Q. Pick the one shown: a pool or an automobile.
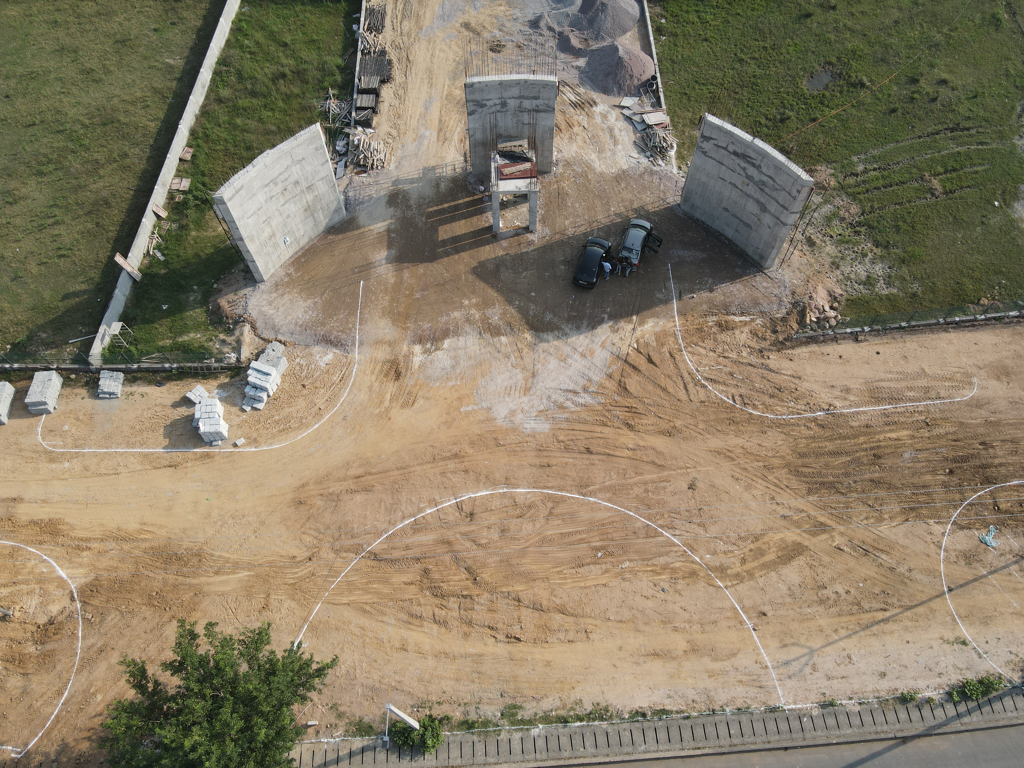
automobile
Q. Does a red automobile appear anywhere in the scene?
No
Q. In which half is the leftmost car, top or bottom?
top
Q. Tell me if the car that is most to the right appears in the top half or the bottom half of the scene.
top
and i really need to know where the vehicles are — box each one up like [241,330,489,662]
[571,234,618,290]
[618,217,665,272]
